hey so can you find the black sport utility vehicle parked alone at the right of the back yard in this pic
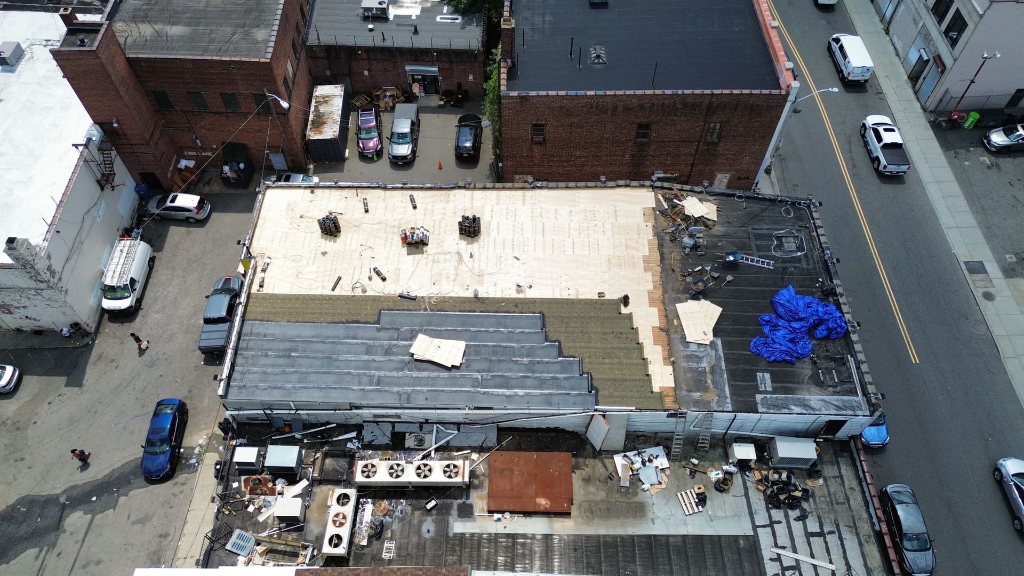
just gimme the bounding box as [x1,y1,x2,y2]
[454,118,483,165]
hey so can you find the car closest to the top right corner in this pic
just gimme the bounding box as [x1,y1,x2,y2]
[979,127,1024,156]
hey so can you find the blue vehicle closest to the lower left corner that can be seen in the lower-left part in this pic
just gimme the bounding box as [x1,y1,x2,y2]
[138,397,191,483]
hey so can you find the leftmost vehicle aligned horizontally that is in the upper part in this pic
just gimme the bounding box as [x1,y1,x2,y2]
[145,193,216,226]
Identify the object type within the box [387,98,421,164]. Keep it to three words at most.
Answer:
truck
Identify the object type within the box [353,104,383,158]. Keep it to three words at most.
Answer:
car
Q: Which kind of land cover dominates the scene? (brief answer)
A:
buildings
